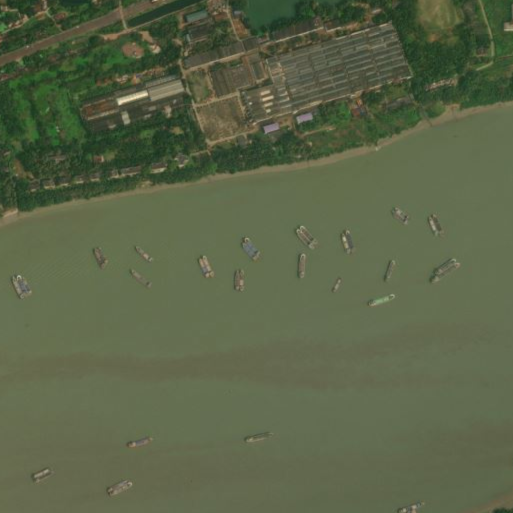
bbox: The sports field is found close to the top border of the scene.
[416,0,464,31]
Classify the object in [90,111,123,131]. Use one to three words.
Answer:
shed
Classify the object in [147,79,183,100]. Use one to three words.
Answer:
building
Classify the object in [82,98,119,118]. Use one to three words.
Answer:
building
